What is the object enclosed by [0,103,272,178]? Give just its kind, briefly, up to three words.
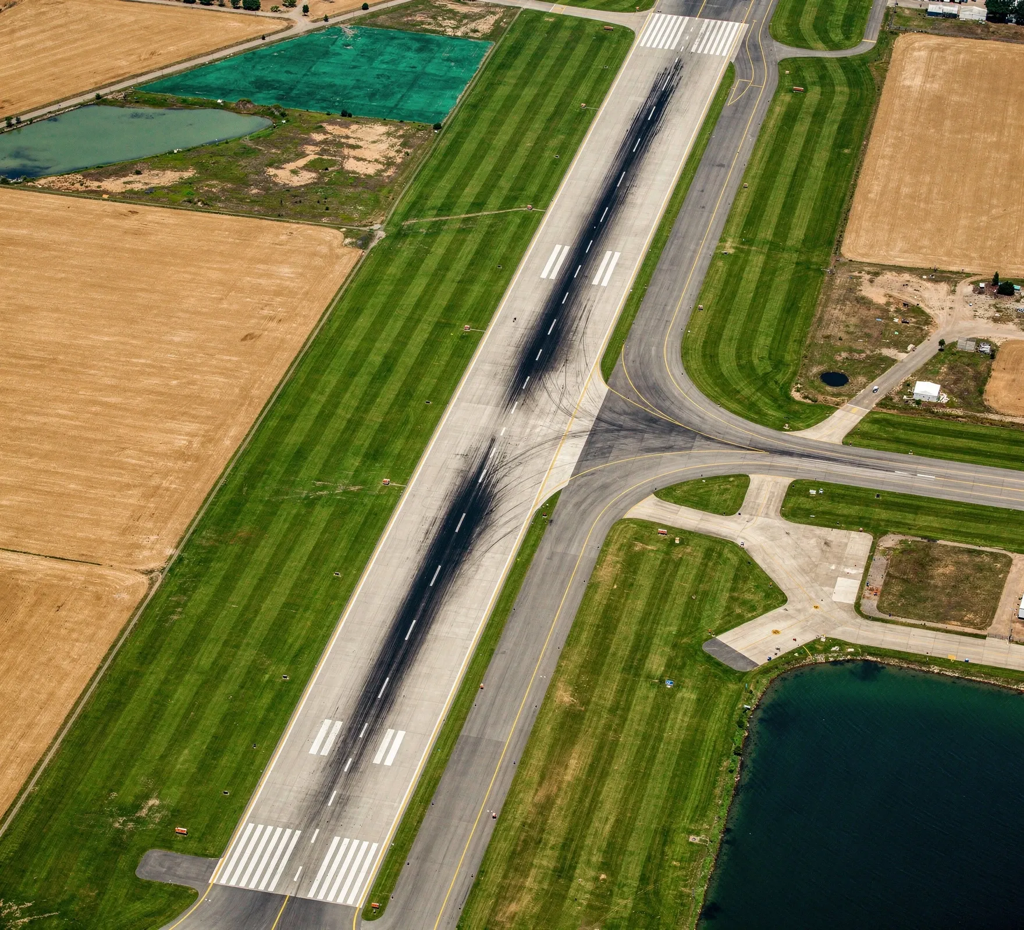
pond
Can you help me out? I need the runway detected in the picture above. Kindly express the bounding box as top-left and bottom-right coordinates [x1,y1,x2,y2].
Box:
[206,13,878,908]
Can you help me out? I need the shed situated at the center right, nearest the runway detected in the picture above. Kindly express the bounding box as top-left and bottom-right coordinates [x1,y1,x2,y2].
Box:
[914,381,942,402]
